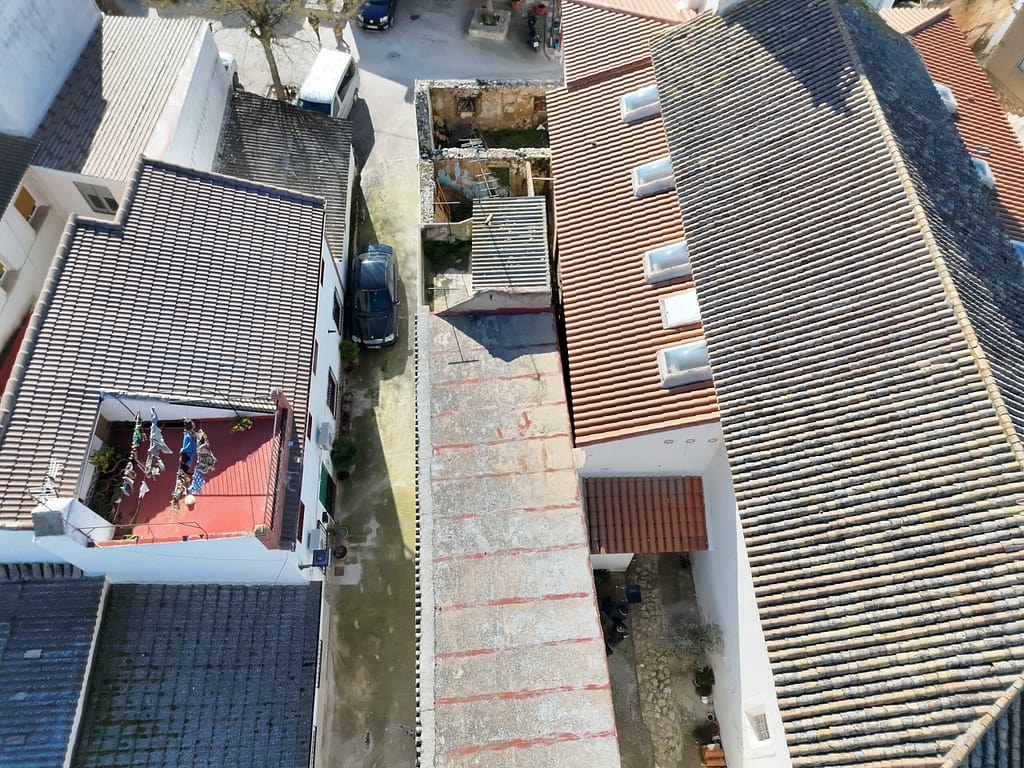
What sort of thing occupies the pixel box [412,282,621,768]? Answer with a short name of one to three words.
building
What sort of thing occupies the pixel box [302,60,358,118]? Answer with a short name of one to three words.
van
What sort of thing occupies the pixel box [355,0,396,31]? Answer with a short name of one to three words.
car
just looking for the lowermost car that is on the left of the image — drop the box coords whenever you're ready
[346,249,401,352]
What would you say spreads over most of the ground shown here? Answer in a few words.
buildings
